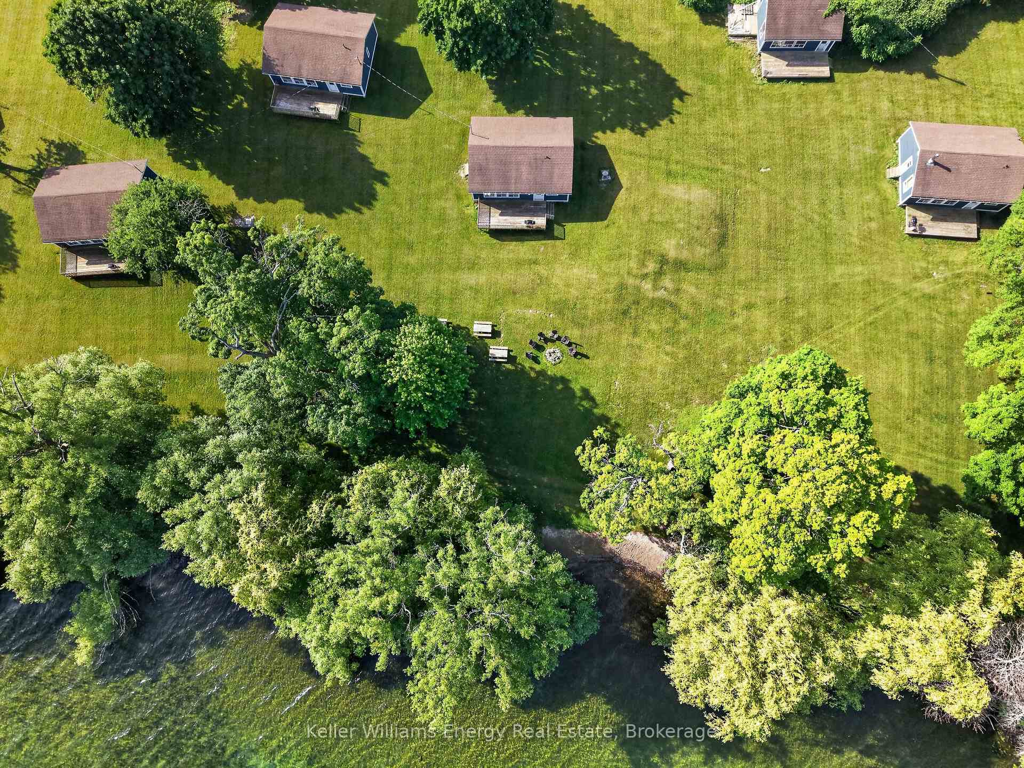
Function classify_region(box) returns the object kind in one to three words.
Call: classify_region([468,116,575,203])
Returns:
building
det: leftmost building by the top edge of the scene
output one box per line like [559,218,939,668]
[261,2,378,99]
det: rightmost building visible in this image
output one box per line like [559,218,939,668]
[895,121,1024,215]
